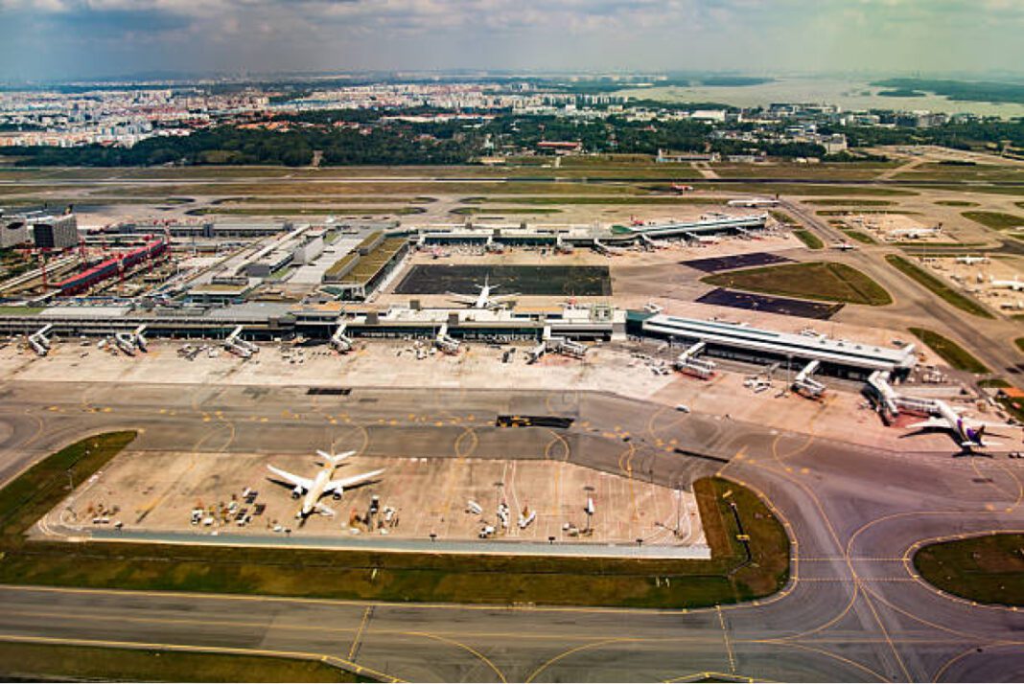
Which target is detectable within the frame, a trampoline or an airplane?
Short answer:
airplane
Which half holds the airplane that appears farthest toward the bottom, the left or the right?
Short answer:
left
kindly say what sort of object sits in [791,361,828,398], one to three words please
jet bridge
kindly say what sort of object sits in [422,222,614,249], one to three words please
building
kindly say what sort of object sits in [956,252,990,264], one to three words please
airplane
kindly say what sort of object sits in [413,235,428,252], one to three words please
jet bridge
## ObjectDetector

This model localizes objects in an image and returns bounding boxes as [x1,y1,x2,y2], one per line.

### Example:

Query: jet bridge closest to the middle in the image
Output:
[526,328,553,360]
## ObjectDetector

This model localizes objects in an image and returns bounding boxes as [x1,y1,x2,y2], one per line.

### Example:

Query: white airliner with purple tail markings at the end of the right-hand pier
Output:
[904,400,1024,444]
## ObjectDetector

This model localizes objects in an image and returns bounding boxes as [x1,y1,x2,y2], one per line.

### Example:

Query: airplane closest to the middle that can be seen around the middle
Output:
[449,271,522,309]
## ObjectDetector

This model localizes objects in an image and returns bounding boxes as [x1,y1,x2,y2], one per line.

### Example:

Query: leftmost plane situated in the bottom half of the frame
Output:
[260,436,383,521]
